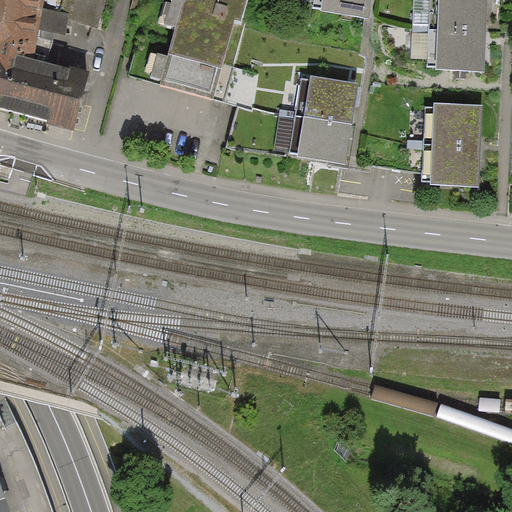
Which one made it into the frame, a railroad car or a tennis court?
railroad car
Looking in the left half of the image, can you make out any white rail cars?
No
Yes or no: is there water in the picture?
No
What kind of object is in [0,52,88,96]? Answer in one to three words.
house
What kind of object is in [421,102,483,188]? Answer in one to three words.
house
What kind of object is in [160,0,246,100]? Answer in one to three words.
building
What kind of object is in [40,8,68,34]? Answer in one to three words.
shed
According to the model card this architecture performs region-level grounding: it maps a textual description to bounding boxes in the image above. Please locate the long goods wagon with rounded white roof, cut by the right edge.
[435,404,512,444]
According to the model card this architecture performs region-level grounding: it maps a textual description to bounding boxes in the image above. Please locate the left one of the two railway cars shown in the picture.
[369,386,440,418]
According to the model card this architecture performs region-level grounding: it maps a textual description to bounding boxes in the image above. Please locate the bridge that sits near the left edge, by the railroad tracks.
[0,380,110,425]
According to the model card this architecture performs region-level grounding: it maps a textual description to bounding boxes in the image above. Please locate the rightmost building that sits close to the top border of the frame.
[437,0,489,72]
